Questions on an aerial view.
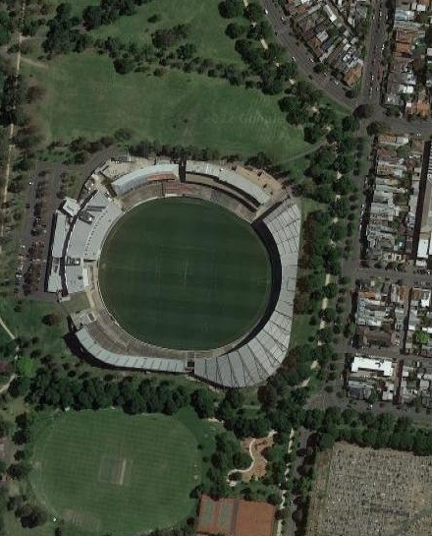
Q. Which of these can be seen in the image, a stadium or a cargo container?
stadium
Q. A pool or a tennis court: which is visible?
tennis court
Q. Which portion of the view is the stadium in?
center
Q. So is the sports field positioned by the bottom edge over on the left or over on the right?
left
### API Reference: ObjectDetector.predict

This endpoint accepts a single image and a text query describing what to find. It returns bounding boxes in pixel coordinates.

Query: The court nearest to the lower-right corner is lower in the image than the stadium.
[236,499,275,536]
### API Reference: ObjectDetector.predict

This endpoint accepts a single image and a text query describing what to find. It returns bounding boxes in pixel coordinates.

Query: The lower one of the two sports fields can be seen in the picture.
[30,412,202,536]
